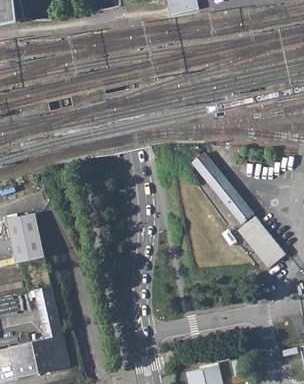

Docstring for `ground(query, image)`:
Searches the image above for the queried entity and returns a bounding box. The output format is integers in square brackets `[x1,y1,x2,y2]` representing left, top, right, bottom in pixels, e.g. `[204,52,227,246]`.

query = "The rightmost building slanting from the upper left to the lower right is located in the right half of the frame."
[238,216,288,268]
